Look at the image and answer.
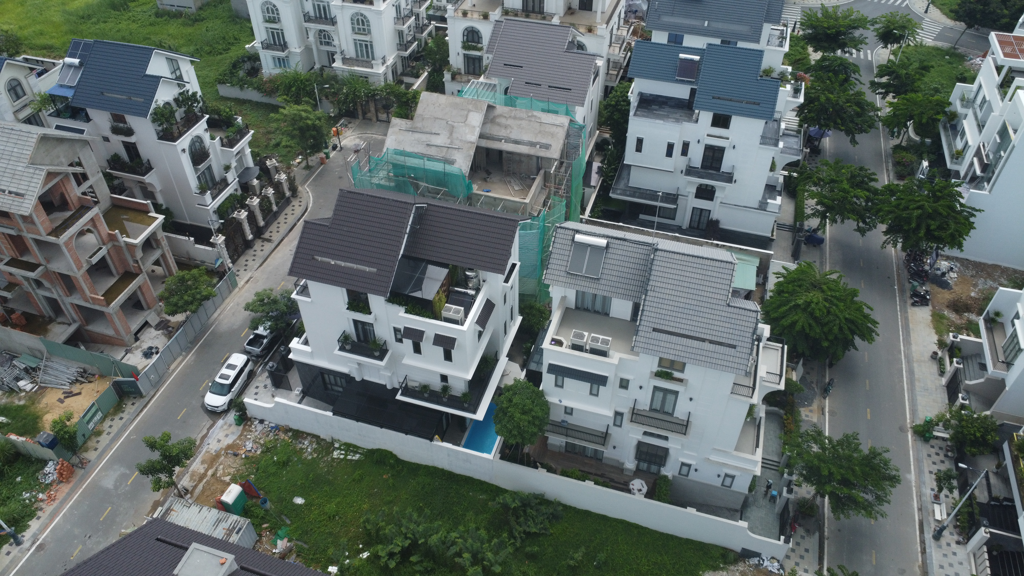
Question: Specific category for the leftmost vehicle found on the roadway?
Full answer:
The leftmost vehicle found on the roadway appears to be a car.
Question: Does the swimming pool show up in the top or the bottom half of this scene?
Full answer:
It is in the bottom half that the swimming pool appears.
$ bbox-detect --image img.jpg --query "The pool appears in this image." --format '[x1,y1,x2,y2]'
[459,405,510,457]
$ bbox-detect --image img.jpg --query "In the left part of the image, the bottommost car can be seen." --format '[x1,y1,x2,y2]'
[194,348,259,414]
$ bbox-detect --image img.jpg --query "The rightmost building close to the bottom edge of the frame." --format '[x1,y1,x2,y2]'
[958,439,1024,576]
